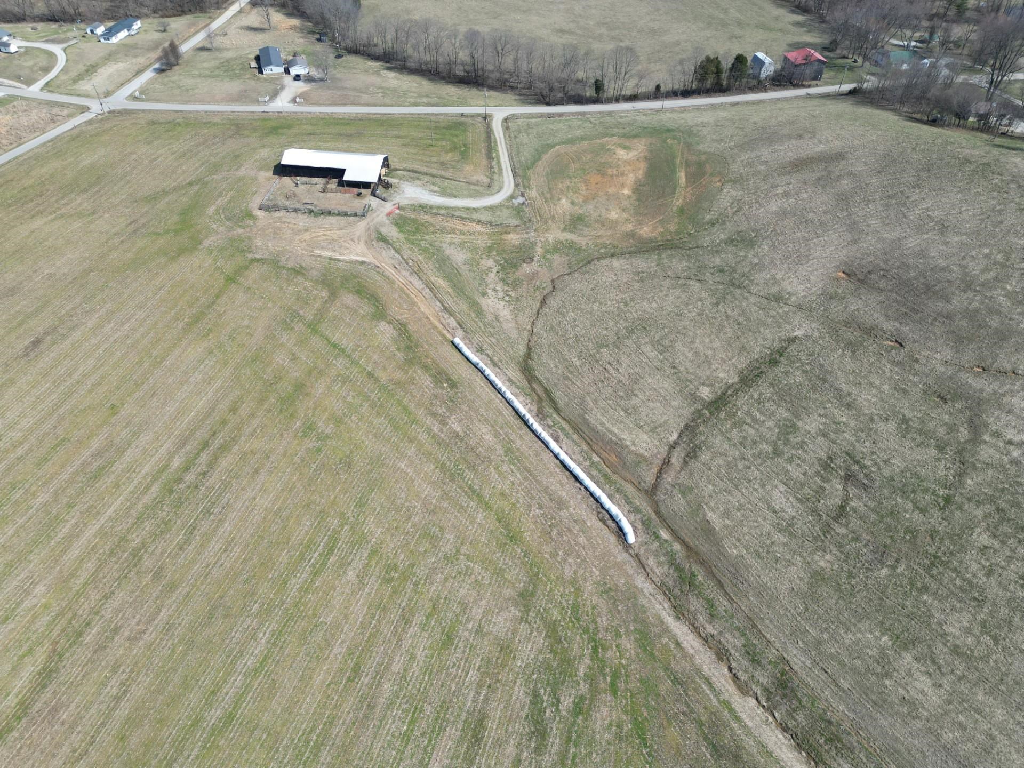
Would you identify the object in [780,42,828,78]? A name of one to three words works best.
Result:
barn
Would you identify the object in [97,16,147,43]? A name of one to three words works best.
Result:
house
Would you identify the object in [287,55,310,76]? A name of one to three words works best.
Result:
building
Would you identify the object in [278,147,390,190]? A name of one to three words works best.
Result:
barn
